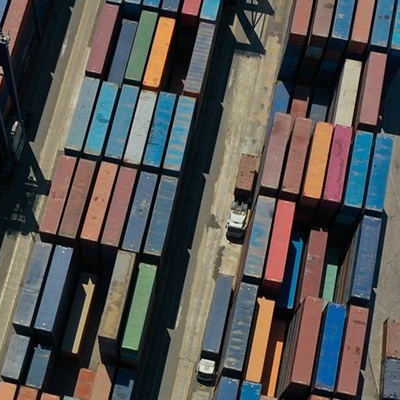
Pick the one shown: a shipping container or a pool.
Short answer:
shipping container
